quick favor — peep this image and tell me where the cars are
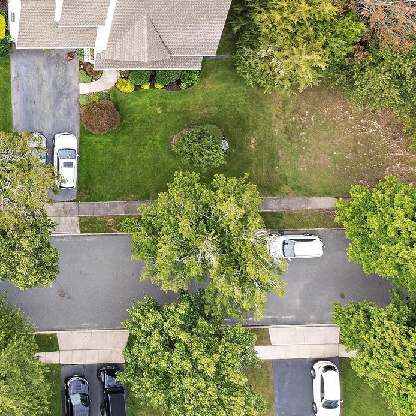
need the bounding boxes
[308,358,340,416]
[100,363,129,416]
[61,372,92,416]
[265,230,325,260]
[52,132,80,188]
